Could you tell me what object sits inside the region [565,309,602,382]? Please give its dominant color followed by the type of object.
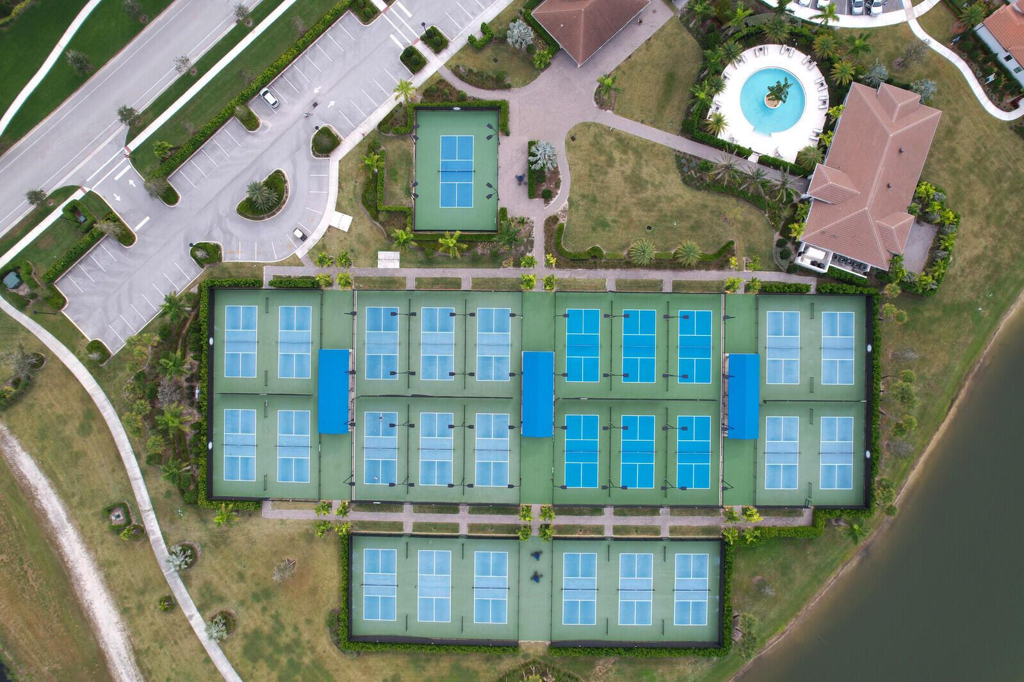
blue sports court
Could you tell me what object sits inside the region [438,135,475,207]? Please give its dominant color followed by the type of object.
blue sports court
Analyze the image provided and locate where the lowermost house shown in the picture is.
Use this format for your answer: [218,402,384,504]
[796,82,942,271]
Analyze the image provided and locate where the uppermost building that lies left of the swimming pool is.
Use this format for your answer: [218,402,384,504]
[531,0,649,69]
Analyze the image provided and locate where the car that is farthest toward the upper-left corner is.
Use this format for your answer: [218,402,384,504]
[258,87,282,111]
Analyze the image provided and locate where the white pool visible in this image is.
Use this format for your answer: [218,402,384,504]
[707,44,829,162]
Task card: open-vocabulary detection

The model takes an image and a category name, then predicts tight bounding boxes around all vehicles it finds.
[815,0,829,10]
[869,0,882,16]
[258,87,282,111]
[850,0,864,16]
[293,229,308,242]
